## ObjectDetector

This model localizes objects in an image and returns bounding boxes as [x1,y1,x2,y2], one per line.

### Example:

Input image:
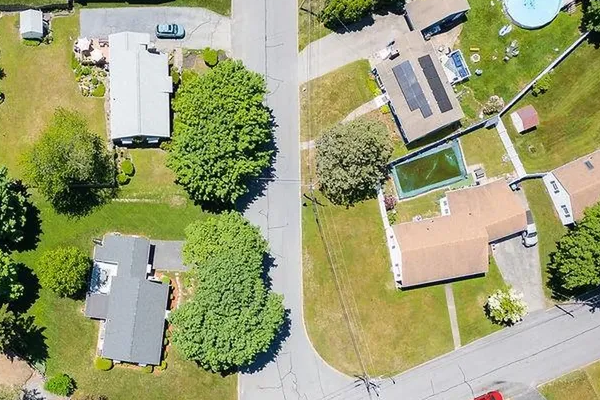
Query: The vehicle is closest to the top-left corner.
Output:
[155,22,185,39]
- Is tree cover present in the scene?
Yes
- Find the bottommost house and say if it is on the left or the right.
left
